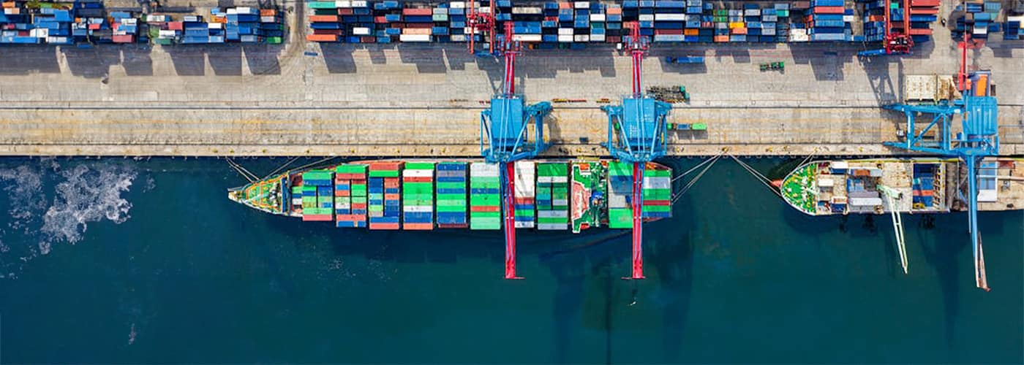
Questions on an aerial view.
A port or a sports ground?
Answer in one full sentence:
The picture captures a port.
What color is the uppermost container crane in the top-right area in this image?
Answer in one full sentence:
The uppermost container crane in the top-right area is red.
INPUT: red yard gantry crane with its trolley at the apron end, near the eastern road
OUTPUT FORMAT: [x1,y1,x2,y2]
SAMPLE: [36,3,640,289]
[859,0,913,57]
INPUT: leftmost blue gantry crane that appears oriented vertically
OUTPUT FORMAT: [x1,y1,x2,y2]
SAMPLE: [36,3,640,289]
[481,19,548,280]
